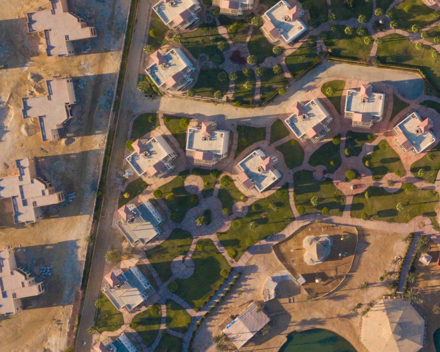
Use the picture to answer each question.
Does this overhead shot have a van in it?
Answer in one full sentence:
No, the photo shows no van.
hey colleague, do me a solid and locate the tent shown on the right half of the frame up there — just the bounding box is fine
[304,235,335,265]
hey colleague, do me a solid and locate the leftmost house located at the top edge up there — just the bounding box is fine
[26,0,97,56]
